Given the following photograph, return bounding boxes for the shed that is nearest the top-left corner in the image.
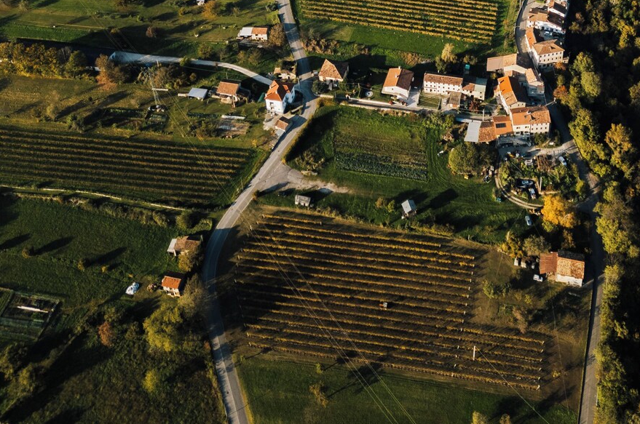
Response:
[188,77,213,95]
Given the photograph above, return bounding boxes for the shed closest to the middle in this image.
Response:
[293,186,315,206]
